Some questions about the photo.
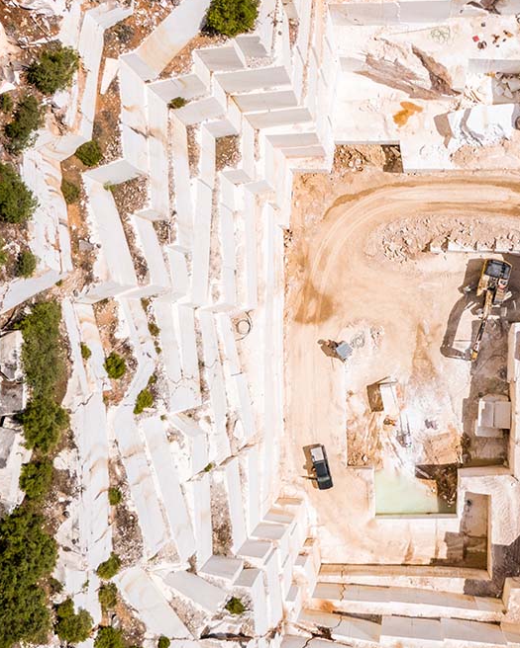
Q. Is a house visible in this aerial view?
No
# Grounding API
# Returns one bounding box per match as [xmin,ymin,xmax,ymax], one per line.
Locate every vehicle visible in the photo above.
[306,445,332,493]
[474,255,514,354]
